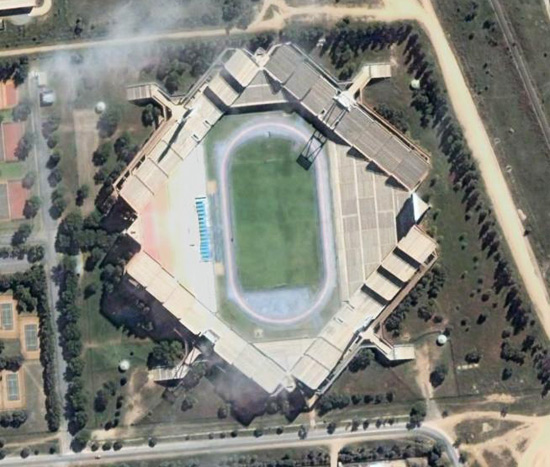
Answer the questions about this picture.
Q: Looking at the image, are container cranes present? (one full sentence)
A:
No, there's no container crane here.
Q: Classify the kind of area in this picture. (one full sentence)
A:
The area seen from above is a sports ground.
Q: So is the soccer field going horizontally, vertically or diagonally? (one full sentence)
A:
The soccer field has been laid out vertically relative to the frame.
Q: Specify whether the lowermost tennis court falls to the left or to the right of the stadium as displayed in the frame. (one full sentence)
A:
The lowermost tennis court appears to the left of the stadium in this view.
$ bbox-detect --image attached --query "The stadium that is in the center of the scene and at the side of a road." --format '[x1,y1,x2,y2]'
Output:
[111,41,438,404]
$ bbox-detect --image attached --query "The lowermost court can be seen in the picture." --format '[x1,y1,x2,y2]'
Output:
[0,367,25,411]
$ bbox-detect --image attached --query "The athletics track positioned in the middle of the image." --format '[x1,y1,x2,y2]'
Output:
[216,115,336,329]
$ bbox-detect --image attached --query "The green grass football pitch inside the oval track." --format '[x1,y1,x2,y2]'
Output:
[231,130,321,314]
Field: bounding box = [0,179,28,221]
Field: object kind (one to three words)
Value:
sports court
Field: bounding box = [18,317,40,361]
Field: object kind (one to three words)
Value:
tennis court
